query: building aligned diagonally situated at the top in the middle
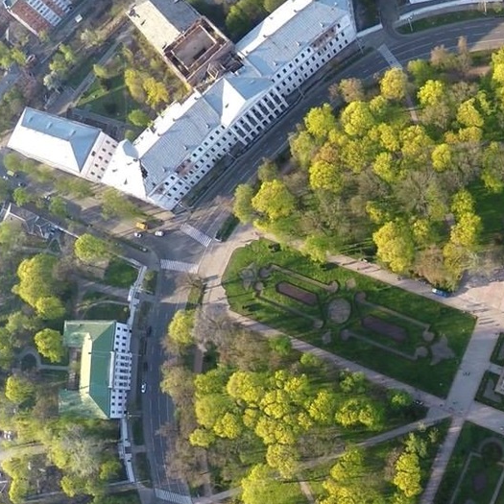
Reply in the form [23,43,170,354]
[94,0,354,212]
